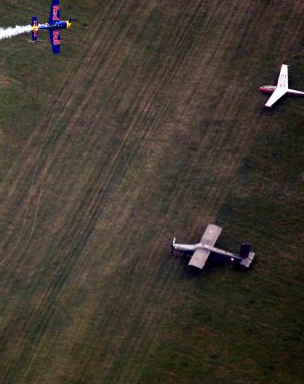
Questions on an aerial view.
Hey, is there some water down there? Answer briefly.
No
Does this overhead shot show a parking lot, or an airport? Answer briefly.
airport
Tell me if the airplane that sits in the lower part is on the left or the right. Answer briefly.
right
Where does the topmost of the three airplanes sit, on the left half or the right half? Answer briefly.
left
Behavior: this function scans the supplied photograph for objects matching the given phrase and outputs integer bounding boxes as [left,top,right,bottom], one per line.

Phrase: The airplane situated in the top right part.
[260,66,304,105]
